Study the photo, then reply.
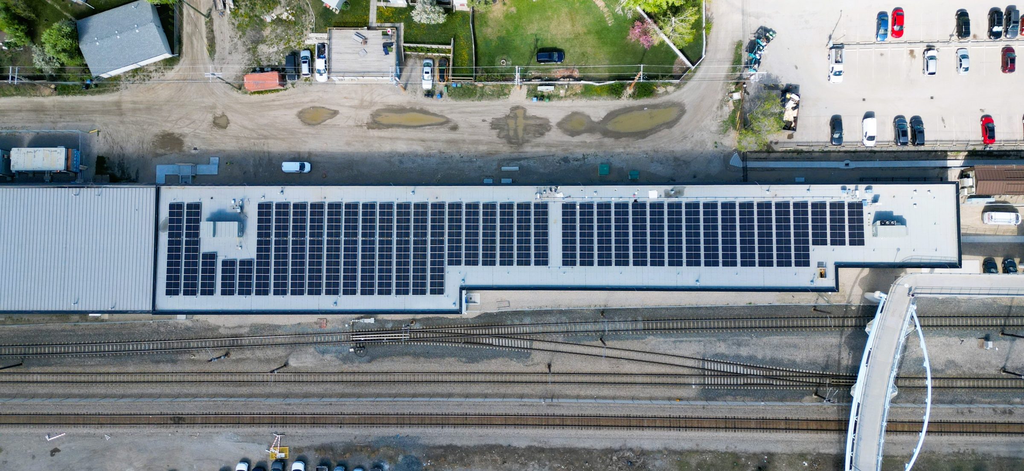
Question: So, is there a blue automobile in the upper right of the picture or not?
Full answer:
Yes, in the upper right of the picture there is a blue automobile.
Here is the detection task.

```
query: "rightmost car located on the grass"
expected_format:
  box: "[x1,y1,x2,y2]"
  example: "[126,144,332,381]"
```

[537,50,565,64]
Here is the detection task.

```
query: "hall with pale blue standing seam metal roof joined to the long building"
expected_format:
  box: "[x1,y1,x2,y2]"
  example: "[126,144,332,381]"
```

[0,183,157,314]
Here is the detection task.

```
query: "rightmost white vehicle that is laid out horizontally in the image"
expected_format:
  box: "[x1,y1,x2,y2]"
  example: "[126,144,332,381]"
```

[982,210,1023,225]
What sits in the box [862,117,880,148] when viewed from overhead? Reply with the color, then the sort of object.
white vehicle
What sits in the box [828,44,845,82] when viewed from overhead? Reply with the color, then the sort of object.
white vehicle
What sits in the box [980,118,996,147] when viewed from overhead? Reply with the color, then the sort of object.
red car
